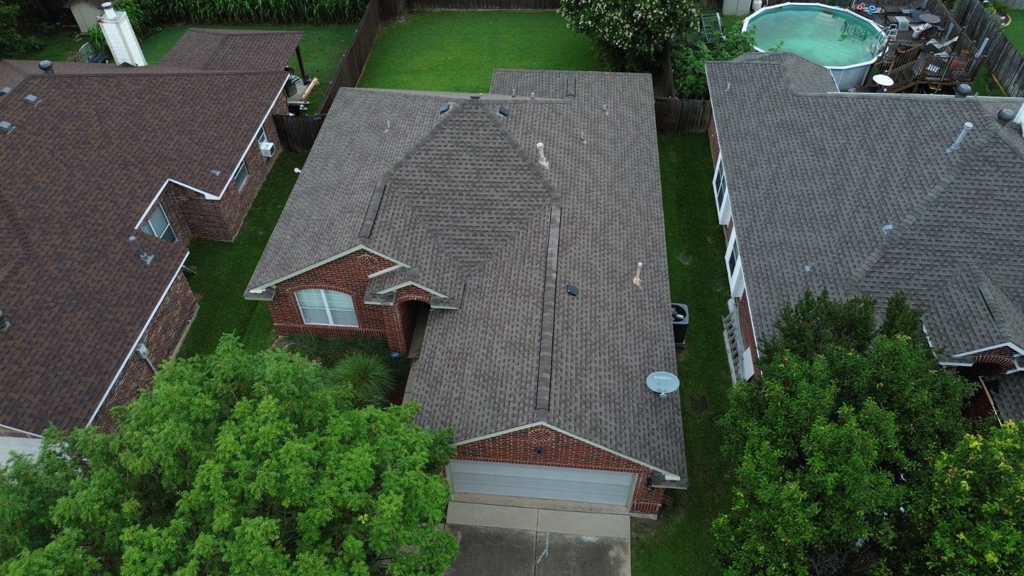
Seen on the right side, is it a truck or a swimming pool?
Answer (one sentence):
What appears on the right side is a swimming pool.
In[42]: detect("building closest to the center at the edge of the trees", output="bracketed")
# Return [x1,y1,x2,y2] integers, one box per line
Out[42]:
[245,70,688,518]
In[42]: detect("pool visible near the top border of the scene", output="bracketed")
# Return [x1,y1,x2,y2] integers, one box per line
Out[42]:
[740,1,885,92]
